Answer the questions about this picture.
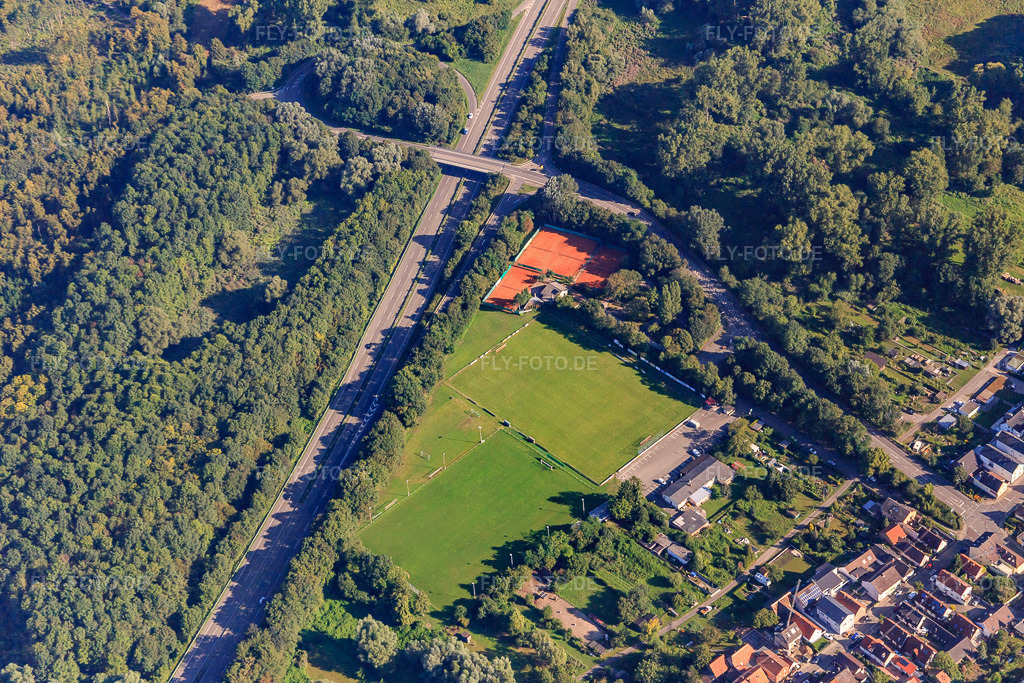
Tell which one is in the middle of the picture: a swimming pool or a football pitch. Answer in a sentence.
Looking in the middle of the picture, you will find a football pitch.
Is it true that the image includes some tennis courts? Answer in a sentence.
Yes, a tennis court is visible in the scene.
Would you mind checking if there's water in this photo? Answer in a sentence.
No, the scene doesn't show any water.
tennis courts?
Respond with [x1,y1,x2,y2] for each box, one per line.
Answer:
[518,230,571,272]
[575,247,627,288]
[485,266,546,311]
[546,237,599,280]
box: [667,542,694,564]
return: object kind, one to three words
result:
shed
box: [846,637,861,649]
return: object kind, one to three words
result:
vehicle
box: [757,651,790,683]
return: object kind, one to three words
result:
house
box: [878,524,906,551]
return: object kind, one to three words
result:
house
